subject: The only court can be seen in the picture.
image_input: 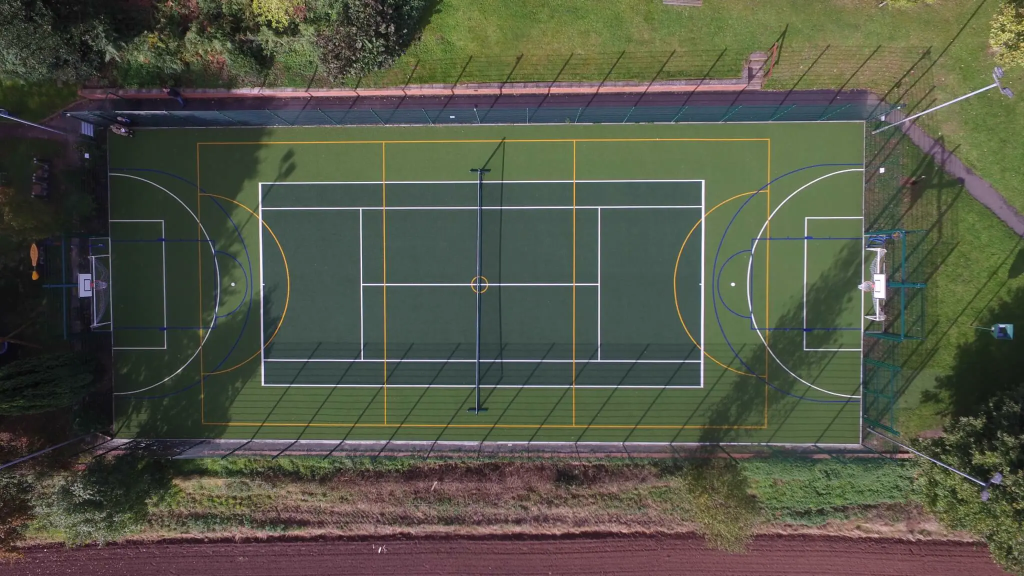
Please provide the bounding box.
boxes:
[259,179,705,388]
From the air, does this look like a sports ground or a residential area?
sports ground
